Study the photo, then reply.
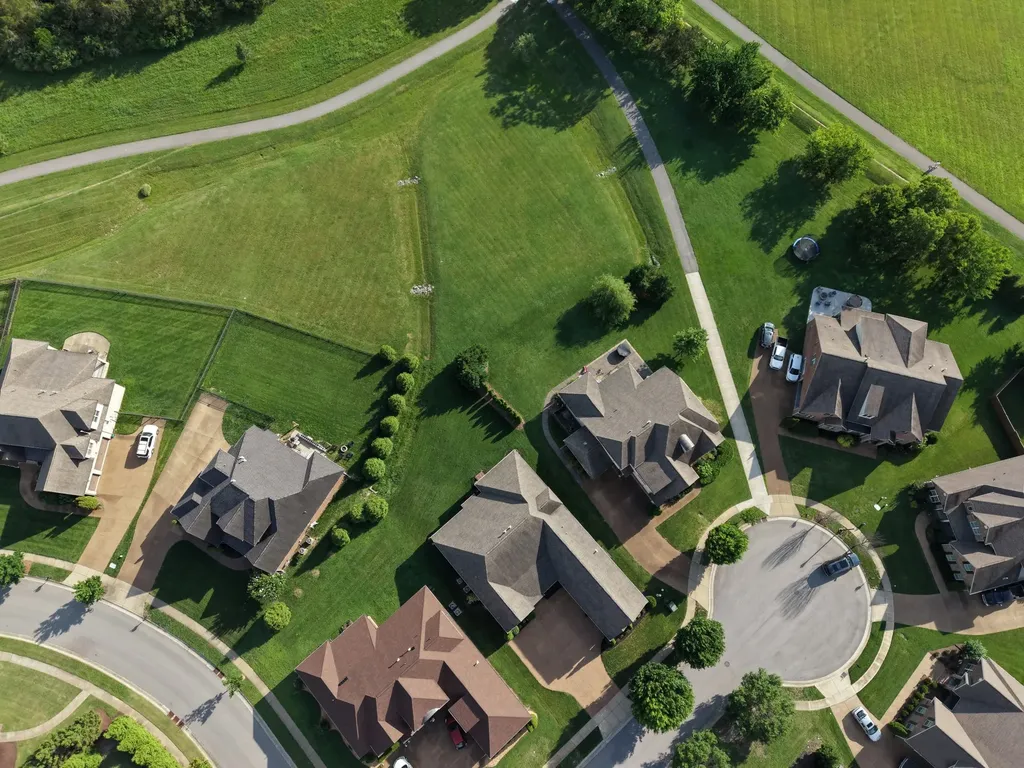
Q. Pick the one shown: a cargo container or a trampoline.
trampoline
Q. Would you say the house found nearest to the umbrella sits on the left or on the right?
right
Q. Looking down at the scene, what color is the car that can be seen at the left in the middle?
white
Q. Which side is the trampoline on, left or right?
right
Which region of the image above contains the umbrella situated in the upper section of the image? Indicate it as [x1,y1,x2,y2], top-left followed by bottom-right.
[843,294,861,311]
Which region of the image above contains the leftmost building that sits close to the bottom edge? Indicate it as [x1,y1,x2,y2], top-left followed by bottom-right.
[295,585,532,759]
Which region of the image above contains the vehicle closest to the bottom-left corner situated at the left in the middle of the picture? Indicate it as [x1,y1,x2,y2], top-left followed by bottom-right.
[136,425,159,461]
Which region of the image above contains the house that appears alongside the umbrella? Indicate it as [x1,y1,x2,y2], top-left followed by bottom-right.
[794,310,963,449]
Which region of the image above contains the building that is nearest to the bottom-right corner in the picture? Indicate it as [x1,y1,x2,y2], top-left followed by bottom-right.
[898,658,1024,768]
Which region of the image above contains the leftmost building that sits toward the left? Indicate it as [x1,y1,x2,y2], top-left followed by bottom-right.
[0,338,126,496]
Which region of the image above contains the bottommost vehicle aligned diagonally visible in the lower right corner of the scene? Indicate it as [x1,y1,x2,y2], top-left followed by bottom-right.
[849,704,881,743]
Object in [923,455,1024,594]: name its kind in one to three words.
house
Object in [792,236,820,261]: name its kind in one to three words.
trampoline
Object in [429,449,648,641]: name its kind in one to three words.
house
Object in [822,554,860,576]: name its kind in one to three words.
car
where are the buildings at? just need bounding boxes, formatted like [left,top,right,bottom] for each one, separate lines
[429,449,648,641]
[898,658,1024,768]
[170,425,346,573]
[295,585,532,759]
[923,455,1024,594]
[0,338,126,496]
[794,310,963,449]
[559,362,725,507]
